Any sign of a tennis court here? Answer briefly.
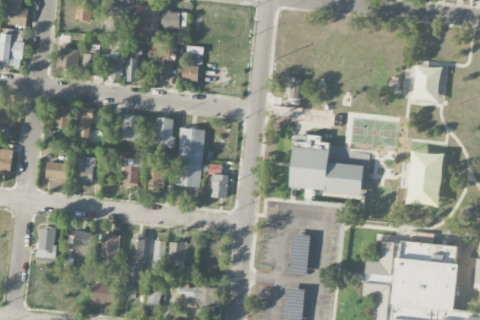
No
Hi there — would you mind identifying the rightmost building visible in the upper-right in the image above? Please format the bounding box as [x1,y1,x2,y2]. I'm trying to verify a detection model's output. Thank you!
[410,64,444,104]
